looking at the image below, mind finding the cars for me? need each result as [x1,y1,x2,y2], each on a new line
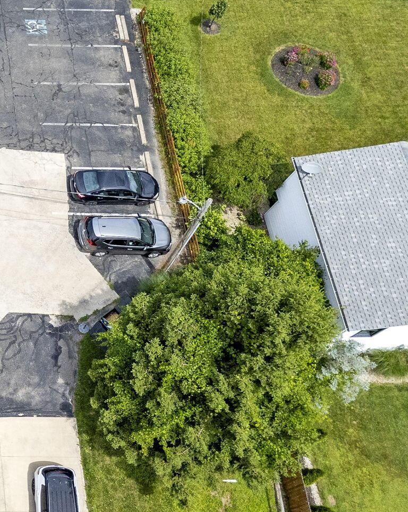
[67,165,159,208]
[74,215,172,260]
[31,465,84,512]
